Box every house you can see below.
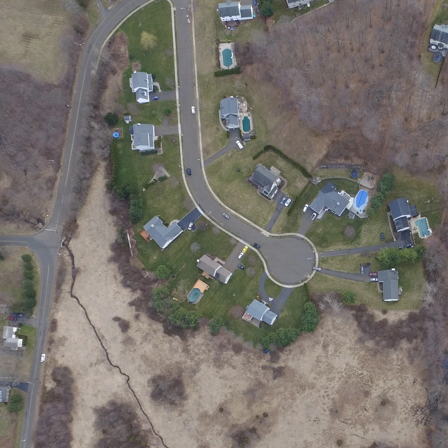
[2,327,21,350]
[129,122,157,151]
[219,95,240,127]
[310,182,354,216]
[0,386,13,402]
[218,0,253,28]
[250,164,281,199]
[389,198,418,231]
[243,298,276,325]
[429,24,448,57]
[378,268,398,299]
[196,254,233,283]
[141,215,184,249]
[129,70,155,101]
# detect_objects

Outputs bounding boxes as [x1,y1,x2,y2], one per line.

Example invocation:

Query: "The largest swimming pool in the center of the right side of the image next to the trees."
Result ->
[353,189,369,214]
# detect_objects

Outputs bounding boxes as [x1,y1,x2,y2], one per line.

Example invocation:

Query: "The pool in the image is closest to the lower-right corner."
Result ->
[416,217,430,237]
